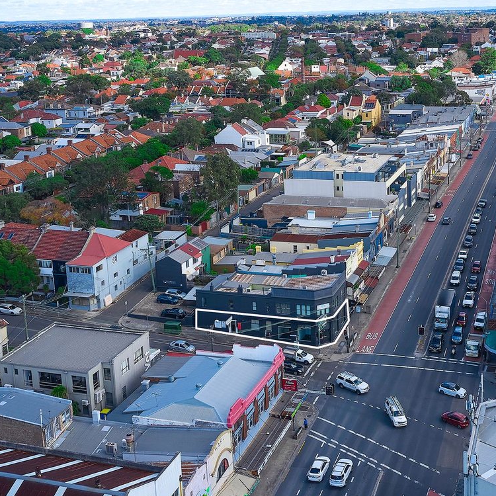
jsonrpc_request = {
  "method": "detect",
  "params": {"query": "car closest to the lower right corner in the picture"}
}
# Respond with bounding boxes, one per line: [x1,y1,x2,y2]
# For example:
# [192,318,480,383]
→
[438,410,471,428]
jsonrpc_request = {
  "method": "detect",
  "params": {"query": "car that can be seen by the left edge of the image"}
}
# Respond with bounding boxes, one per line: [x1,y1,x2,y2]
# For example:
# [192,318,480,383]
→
[0,301,22,314]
